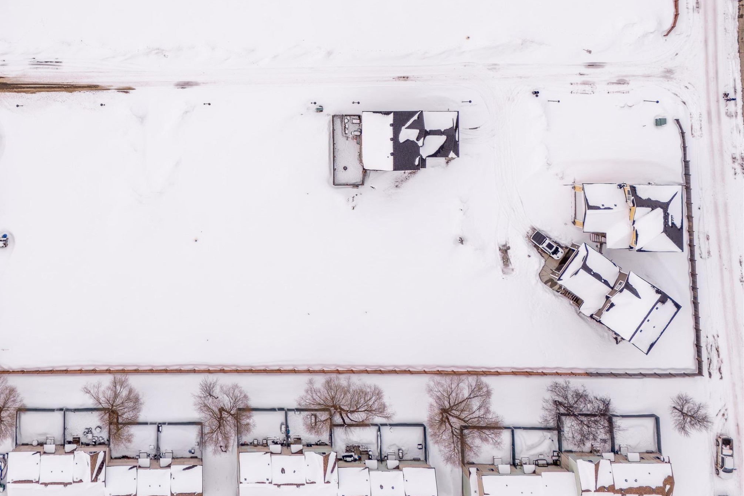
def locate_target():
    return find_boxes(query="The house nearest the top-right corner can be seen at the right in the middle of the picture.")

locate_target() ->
[575,183,683,253]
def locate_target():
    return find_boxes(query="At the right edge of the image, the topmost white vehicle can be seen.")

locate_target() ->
[716,436,734,479]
